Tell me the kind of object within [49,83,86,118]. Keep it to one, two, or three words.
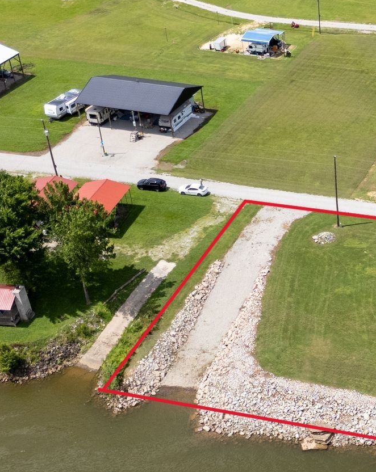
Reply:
trailer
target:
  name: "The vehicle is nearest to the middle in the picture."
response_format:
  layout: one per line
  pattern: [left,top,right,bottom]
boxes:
[177,180,209,195]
